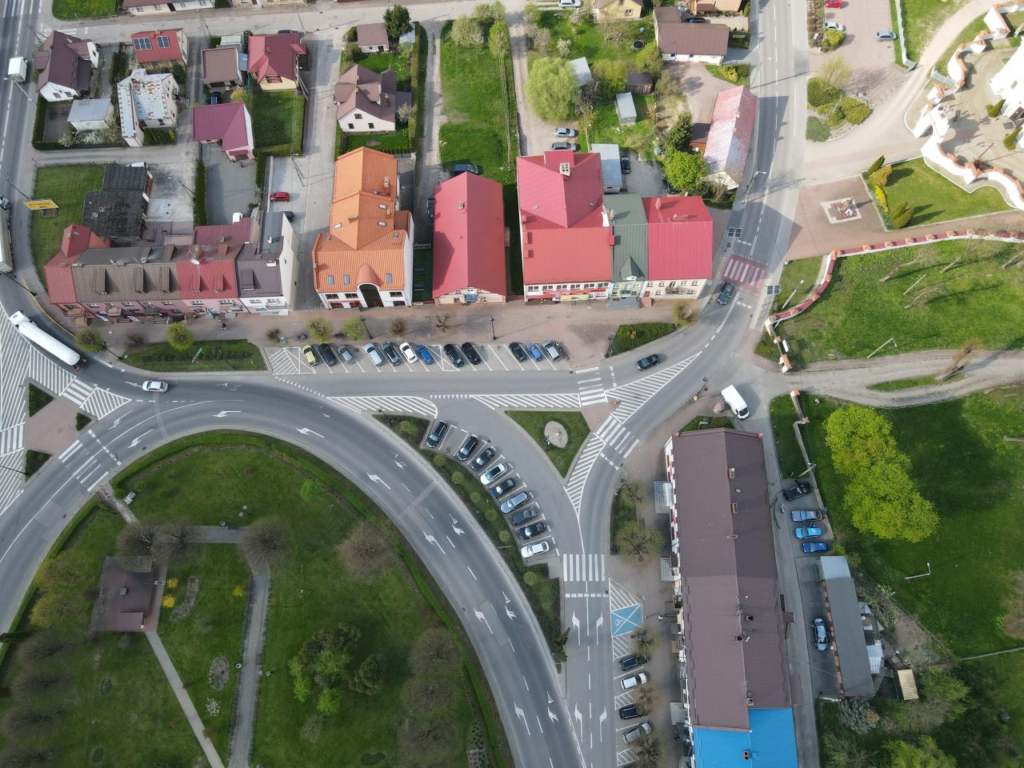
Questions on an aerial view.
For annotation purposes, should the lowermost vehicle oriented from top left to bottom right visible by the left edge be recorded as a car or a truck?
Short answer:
truck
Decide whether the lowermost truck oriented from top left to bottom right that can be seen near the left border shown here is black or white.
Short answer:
white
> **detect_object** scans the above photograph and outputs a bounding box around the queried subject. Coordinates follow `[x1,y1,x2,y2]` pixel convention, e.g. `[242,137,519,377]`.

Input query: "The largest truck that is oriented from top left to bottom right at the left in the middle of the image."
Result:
[9,314,90,376]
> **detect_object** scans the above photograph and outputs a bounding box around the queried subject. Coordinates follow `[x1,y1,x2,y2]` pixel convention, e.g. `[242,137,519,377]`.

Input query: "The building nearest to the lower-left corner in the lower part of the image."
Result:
[91,556,152,632]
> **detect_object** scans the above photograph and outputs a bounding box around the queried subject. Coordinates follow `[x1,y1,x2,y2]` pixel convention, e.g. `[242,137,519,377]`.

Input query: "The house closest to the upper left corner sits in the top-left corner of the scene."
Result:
[34,30,97,101]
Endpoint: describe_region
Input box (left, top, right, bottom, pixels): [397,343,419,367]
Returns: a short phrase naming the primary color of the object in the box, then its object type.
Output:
white car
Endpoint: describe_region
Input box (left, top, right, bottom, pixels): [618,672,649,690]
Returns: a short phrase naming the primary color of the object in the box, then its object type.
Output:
white car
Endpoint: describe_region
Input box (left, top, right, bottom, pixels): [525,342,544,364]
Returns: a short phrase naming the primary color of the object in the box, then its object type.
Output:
blue car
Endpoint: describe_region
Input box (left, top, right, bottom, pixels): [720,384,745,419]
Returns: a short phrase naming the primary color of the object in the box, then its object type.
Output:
white vehicle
